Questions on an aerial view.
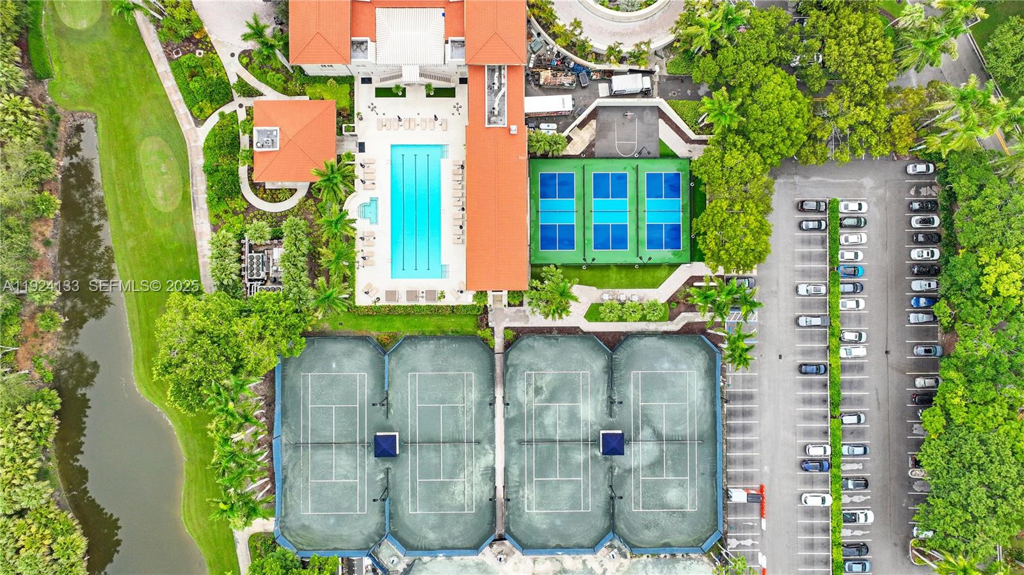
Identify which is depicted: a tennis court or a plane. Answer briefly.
tennis court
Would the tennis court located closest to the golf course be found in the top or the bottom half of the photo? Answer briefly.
bottom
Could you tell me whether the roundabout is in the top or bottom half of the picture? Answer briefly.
top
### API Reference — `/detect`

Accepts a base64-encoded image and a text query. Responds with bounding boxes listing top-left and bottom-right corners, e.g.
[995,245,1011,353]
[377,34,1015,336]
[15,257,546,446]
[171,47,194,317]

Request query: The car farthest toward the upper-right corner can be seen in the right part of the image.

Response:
[905,162,934,175]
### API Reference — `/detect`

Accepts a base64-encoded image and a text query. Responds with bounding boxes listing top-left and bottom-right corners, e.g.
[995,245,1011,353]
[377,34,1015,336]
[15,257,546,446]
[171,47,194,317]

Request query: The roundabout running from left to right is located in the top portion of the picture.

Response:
[541,0,710,54]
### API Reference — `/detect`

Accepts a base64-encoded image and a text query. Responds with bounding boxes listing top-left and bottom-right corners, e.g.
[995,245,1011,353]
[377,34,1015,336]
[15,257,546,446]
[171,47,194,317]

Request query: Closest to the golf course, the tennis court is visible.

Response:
[280,338,388,552]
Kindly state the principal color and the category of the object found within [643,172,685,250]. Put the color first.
blue sports court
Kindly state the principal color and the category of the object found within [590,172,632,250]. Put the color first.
blue sports court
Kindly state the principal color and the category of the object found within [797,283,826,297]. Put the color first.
white car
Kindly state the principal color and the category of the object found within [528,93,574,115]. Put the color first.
white trailer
